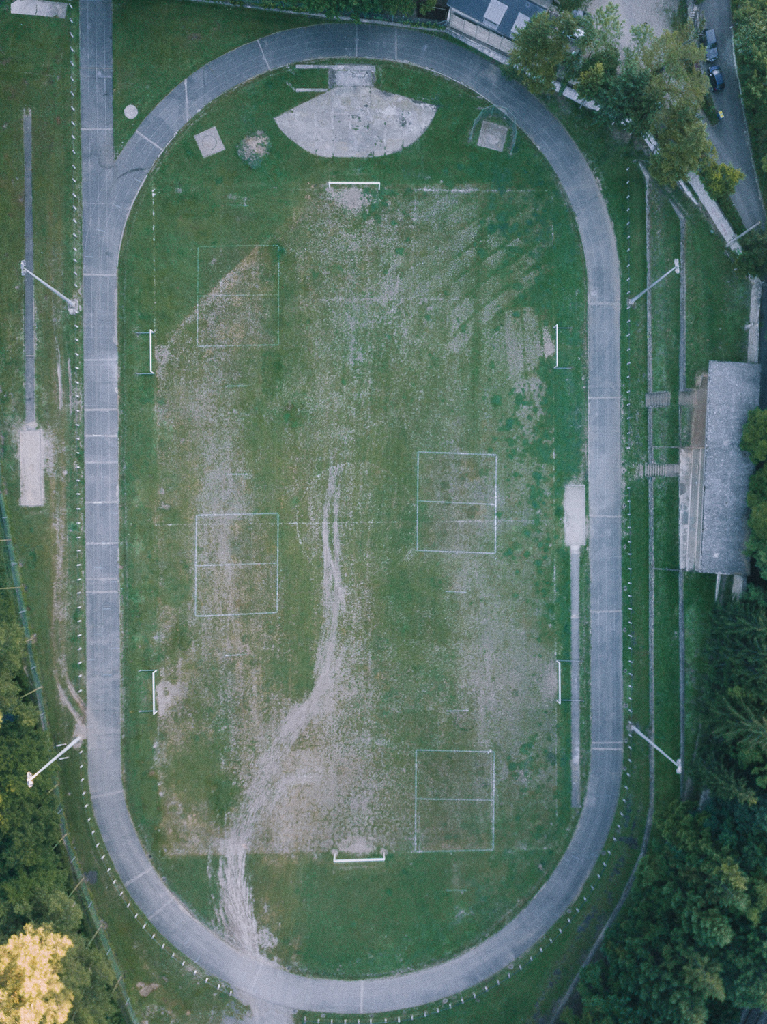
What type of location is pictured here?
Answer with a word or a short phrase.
sports ground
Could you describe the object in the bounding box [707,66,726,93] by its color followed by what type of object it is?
blue car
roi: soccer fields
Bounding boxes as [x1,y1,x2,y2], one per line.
[116,57,592,981]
